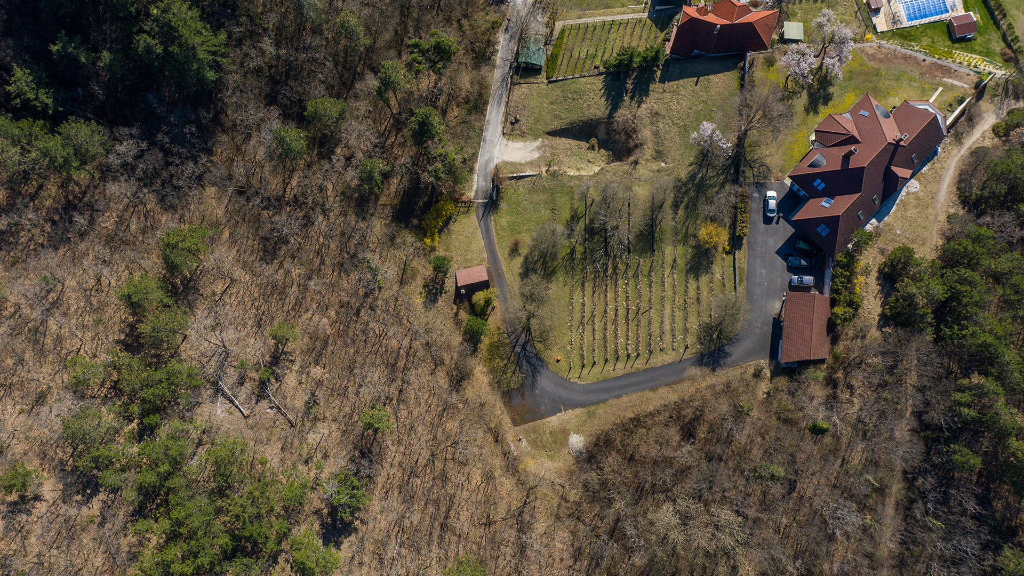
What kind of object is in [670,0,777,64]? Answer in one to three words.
house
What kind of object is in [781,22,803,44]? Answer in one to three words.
shed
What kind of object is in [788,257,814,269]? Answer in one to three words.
vehicle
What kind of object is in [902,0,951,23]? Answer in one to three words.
swimming pool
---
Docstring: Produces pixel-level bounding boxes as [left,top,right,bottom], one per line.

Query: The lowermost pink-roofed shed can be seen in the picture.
[456,265,490,295]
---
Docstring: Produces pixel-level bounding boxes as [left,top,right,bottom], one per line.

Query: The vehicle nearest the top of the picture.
[765,193,778,217]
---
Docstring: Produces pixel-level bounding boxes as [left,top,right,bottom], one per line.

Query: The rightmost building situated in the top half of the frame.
[946,12,977,40]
